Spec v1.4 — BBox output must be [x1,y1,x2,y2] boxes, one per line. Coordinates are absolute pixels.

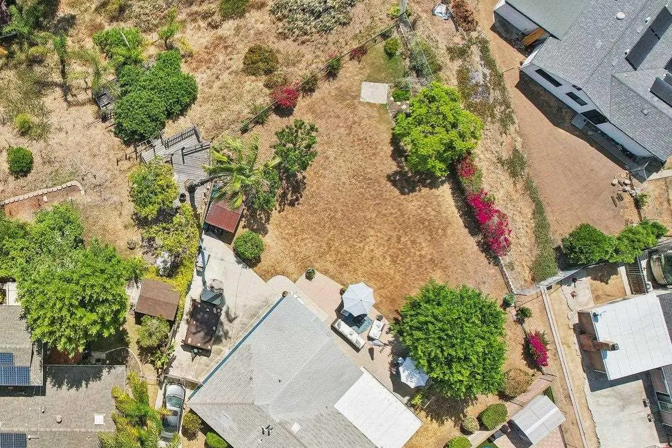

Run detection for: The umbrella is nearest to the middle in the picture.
[339,282,375,318]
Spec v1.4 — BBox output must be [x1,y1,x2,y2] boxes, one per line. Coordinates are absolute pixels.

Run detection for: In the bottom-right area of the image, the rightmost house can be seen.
[572,289,672,448]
